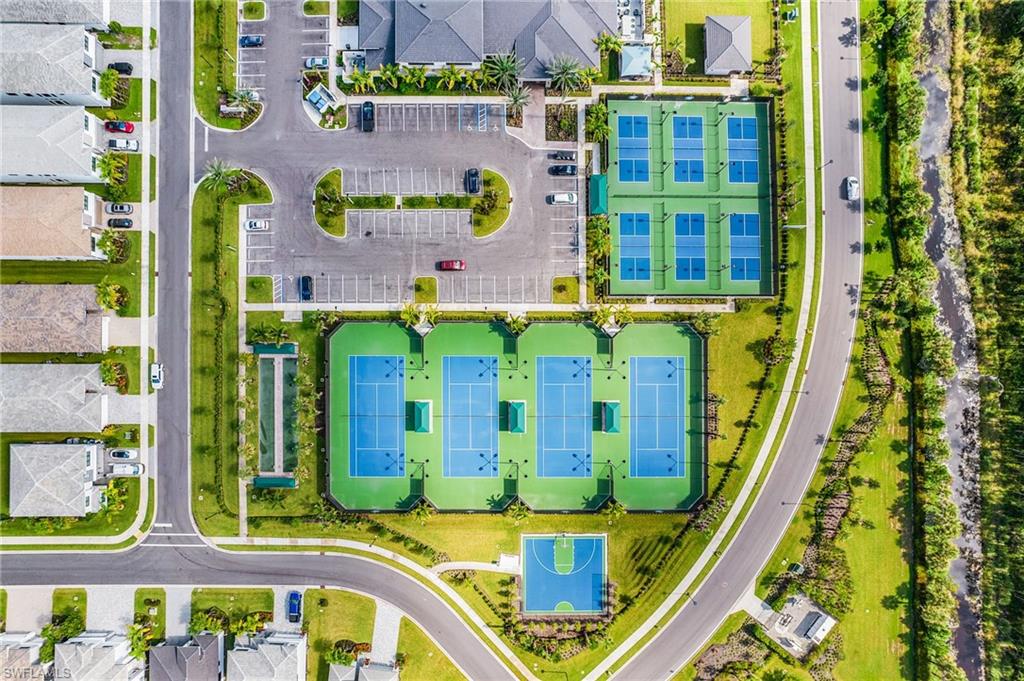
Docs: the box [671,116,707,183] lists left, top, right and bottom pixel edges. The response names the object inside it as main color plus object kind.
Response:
blue sports court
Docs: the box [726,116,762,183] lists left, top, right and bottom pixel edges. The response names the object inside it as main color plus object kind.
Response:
blue sports court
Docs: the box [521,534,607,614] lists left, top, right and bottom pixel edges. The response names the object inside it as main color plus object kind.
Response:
blue basketball court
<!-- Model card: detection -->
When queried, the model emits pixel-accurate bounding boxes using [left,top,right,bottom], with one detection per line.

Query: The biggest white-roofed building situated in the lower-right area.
[806,610,837,646]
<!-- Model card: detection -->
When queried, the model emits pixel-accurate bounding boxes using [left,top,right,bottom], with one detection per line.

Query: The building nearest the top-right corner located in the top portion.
[704,16,751,78]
